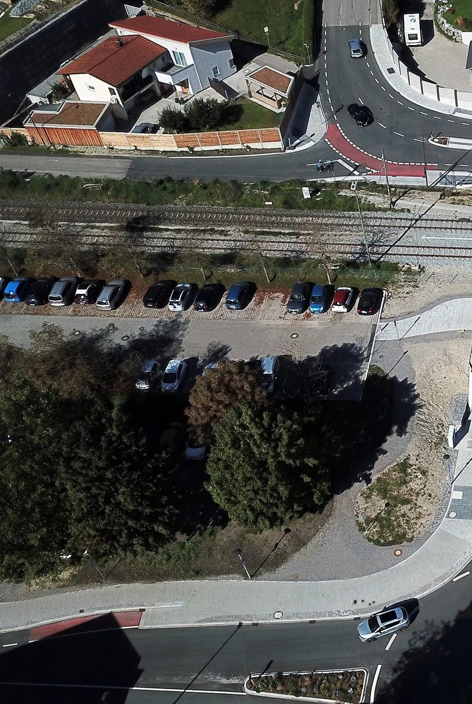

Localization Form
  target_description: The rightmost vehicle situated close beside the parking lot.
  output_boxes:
[356,284,380,314]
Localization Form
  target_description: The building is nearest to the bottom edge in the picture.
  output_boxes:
[22,98,118,150]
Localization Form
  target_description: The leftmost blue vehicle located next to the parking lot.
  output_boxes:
[0,275,29,301]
